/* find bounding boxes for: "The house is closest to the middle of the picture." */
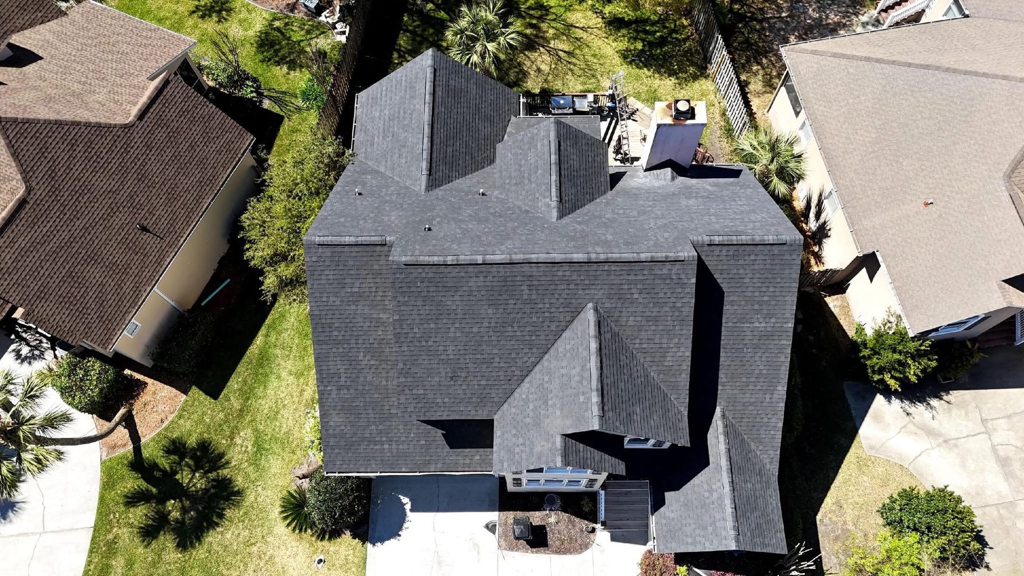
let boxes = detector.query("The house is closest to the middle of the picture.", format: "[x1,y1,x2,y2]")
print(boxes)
[304,48,803,554]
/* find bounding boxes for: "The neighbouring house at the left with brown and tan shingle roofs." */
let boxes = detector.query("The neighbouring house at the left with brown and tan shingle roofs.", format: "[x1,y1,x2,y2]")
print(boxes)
[0,0,264,367]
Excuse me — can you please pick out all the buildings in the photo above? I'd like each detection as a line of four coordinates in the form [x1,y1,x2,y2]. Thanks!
[766,0,1024,357]
[0,0,264,367]
[304,48,803,554]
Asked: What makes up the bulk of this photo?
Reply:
buildings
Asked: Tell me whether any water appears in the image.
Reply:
No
